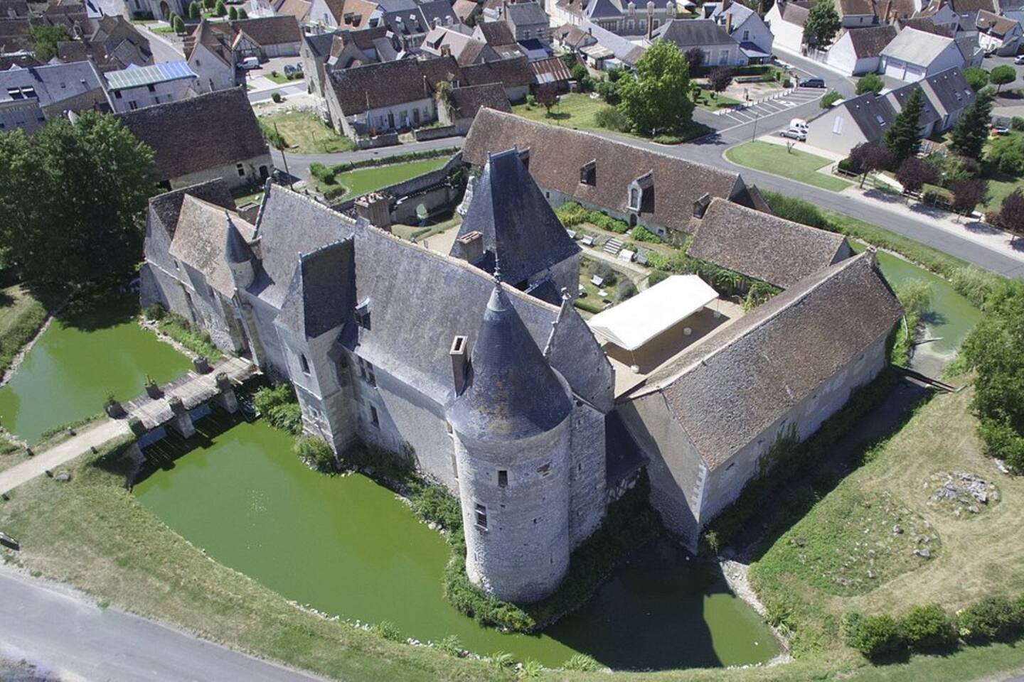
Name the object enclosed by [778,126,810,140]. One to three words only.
car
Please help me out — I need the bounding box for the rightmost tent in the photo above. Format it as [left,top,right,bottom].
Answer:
[589,274,715,362]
